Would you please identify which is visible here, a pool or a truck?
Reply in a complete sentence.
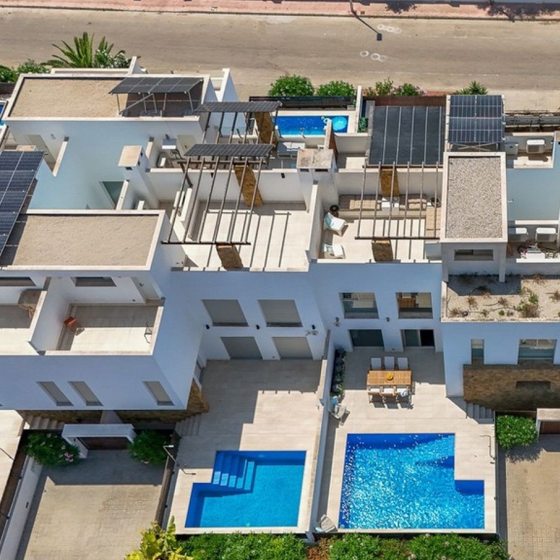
This aerial view contains a pool.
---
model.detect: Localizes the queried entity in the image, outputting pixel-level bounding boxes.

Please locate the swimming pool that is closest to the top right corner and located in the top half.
[271,115,351,136]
